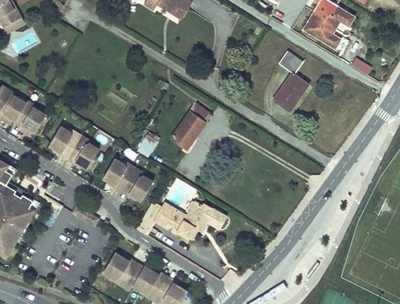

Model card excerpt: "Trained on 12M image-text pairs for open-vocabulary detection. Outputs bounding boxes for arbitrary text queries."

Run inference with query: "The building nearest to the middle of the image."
[172,102,212,153]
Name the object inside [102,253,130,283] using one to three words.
house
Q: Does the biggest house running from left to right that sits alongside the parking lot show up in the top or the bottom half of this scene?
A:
bottom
